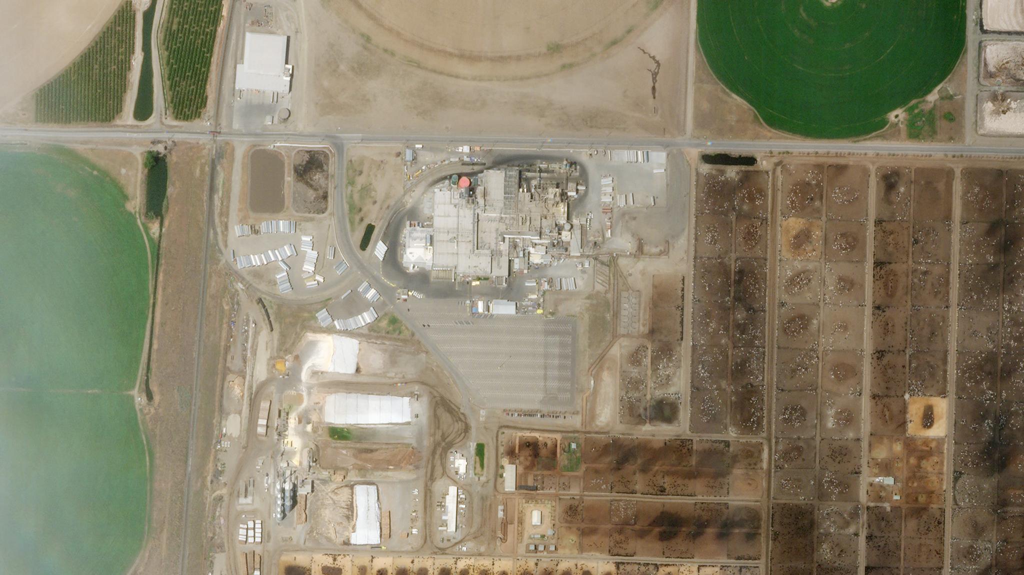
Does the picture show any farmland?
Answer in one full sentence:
Yes, the picture does contain farmland.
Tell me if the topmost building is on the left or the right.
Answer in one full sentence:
The topmost building sits on the left side.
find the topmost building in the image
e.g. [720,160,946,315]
[244,32,287,76]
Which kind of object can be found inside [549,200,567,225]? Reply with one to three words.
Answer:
building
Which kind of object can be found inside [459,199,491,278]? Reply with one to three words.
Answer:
building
